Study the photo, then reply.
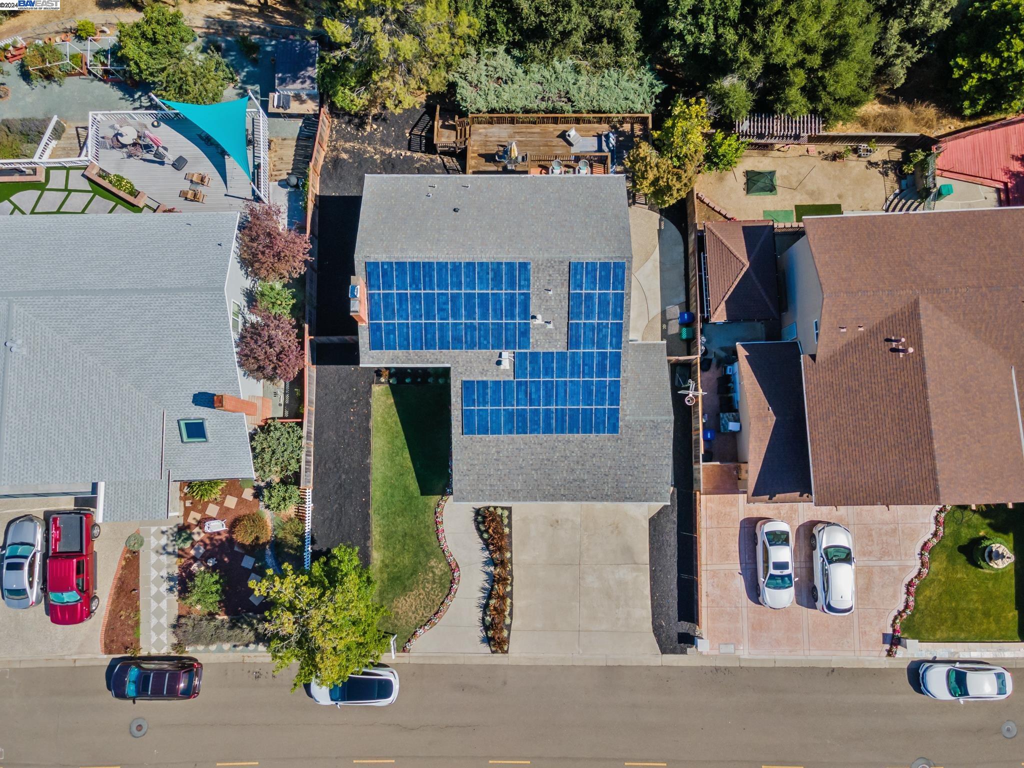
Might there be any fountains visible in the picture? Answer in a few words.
Yes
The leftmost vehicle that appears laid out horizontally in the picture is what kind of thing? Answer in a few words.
automobile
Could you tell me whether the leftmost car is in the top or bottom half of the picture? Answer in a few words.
bottom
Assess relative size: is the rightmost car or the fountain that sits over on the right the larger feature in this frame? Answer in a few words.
the car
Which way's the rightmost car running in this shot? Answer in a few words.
horizontally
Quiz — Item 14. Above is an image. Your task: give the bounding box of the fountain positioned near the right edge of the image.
[972,536,1018,575]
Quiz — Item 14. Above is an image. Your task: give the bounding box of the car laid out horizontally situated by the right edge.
[915,659,1015,706]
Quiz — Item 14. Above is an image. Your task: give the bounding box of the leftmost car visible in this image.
[0,513,52,610]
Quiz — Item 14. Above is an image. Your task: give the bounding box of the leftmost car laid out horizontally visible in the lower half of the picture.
[110,658,207,706]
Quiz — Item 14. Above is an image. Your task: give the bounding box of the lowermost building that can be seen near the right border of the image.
[737,213,1024,509]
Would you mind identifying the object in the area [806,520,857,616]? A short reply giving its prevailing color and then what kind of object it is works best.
white car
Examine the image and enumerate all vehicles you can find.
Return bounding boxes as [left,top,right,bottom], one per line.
[310,662,404,712]
[915,659,1015,706]
[750,518,798,611]
[806,520,857,616]
[0,513,52,610]
[44,508,103,622]
[110,658,207,706]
